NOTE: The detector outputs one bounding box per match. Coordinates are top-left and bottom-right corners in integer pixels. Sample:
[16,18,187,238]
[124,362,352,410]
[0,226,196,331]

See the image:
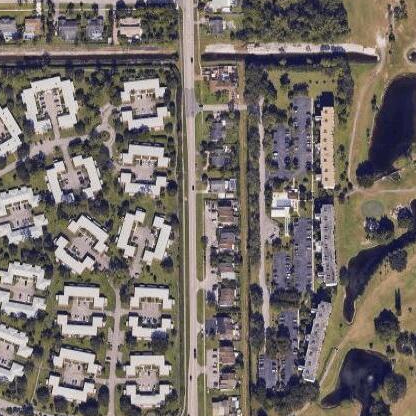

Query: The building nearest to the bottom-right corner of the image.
[298,301,332,381]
